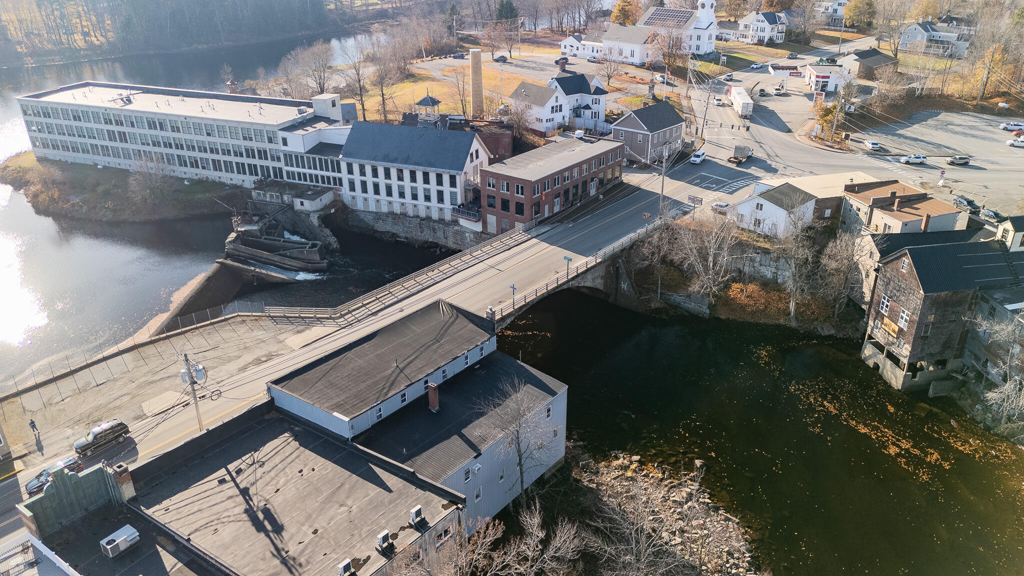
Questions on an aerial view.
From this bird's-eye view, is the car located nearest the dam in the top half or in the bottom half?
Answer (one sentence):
The car located nearest the dam is in the bottom half of the image.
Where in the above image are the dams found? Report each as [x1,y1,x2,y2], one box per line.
[149,259,303,334]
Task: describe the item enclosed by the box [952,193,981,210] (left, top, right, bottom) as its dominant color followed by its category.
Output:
gray car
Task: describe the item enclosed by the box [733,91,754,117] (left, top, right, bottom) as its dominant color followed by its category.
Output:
white truck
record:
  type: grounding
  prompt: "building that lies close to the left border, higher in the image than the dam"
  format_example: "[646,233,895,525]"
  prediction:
[18,77,344,192]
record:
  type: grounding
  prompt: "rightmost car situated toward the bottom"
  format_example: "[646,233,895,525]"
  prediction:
[66,419,134,464]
